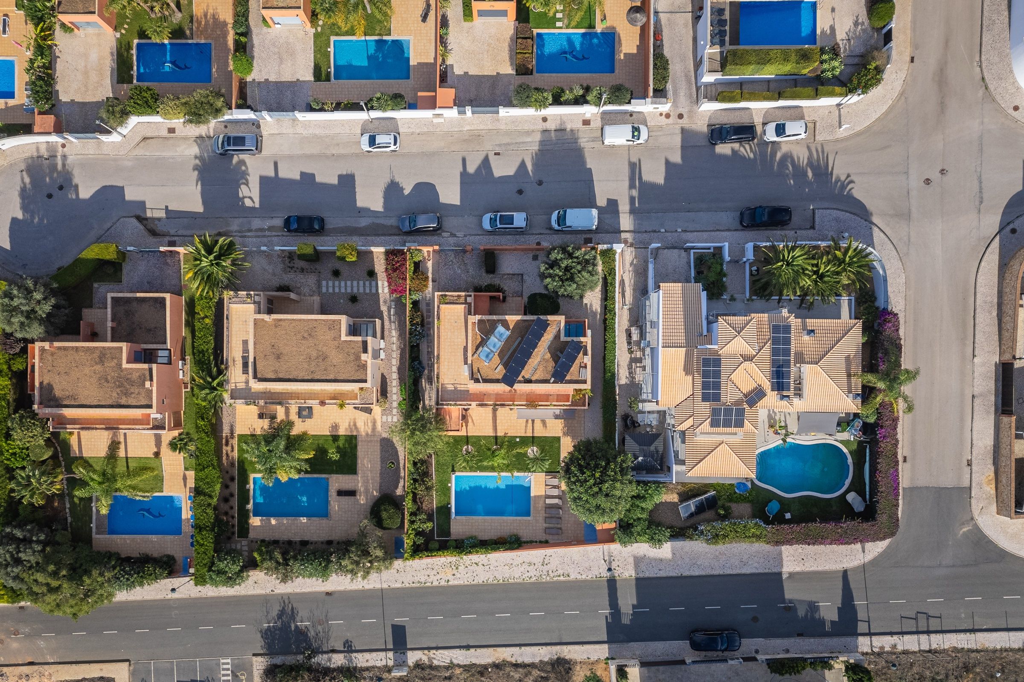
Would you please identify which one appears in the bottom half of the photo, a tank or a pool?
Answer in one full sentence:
What appears in the bottom half of the photo is a pool.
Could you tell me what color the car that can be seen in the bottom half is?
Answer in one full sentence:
The car that can be seen in the bottom half looks black in the image.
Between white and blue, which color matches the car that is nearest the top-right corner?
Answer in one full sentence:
In this view, the car that is nearest the top-right corner is white.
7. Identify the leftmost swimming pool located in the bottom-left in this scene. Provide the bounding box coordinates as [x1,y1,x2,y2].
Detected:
[93,492,185,538]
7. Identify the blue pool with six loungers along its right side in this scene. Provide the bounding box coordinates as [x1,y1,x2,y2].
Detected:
[451,472,533,520]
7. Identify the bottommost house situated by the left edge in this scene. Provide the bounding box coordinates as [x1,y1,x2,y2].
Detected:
[28,293,195,431]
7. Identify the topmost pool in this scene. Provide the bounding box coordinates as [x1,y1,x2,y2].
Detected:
[726,0,820,48]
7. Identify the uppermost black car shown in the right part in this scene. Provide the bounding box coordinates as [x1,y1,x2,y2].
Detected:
[709,124,755,147]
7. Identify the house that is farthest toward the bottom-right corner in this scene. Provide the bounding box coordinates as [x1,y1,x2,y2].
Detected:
[652,283,863,483]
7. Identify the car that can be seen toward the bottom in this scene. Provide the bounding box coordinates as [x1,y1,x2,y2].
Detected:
[690,627,739,653]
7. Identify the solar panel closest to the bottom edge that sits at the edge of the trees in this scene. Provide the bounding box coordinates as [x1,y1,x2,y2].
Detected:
[678,492,718,520]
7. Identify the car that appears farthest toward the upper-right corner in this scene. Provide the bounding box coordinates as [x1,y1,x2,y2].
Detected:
[764,121,806,143]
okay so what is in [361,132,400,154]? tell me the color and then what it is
white car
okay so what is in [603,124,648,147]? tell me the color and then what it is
white vehicle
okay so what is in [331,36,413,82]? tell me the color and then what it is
blue swimming pool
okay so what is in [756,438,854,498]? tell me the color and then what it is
blue swimming pool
